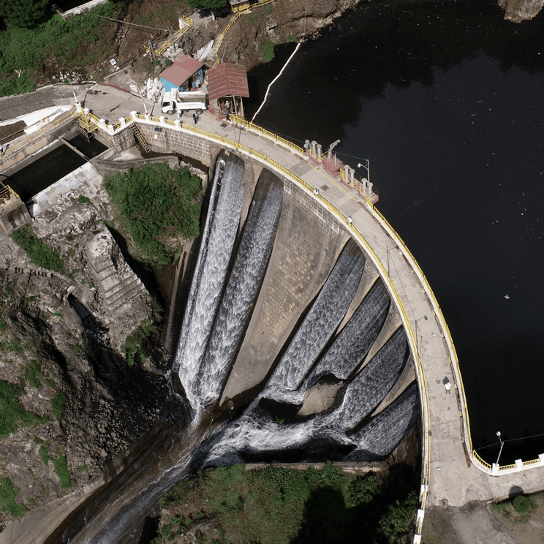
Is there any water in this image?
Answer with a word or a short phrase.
Yes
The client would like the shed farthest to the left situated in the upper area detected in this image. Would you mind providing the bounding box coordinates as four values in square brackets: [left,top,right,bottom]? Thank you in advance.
[159,55,205,93]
